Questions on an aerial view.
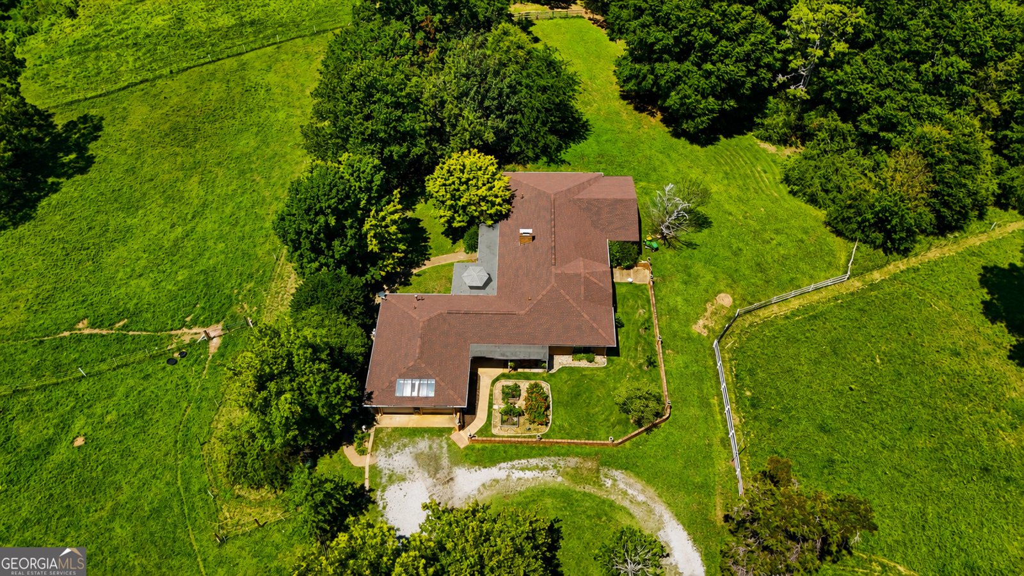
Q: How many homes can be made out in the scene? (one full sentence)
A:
My tally gives 1 home in this photo.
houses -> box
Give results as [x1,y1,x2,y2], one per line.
[365,171,641,419]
